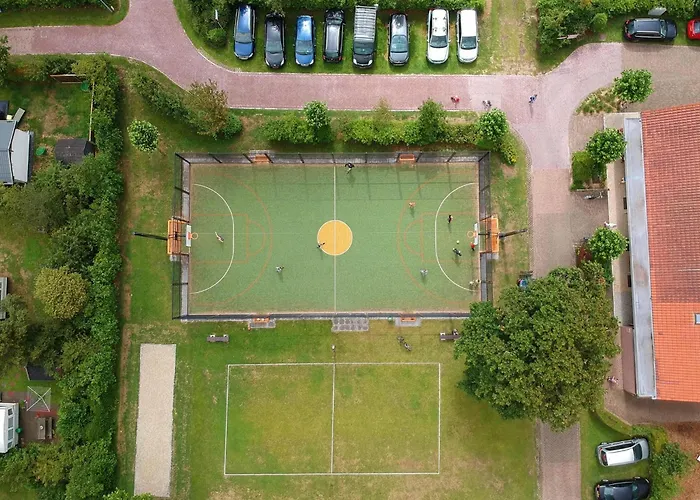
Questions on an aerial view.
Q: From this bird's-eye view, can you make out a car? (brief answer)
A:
Yes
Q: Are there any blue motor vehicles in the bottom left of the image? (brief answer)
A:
No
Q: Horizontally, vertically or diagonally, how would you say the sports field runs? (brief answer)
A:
horizontally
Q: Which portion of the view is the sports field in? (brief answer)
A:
bottom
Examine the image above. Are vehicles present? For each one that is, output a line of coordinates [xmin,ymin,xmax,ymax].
[352,1,377,69]
[321,10,345,64]
[427,12,450,64]
[293,18,316,67]
[388,16,411,66]
[684,19,700,41]
[262,16,286,69]
[455,12,479,64]
[621,17,677,41]
[232,8,256,60]
[592,478,651,500]
[594,438,649,466]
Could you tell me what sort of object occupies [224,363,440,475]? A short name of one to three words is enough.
sports field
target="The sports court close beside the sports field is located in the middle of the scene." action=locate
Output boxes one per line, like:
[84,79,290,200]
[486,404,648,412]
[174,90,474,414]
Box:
[181,155,489,321]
